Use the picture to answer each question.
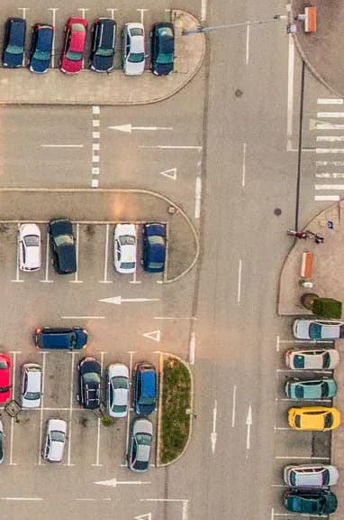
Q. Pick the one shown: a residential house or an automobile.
automobile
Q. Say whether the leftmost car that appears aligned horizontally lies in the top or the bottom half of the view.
bottom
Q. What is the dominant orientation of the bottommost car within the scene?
horizontally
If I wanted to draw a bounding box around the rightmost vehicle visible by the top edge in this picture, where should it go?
[149,23,176,75]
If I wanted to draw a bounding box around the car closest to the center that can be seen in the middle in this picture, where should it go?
[140,223,167,273]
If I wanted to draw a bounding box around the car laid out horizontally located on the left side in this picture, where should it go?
[34,325,85,351]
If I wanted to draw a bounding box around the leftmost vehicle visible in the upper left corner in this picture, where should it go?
[1,18,27,68]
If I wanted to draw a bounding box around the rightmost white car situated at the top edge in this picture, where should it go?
[120,23,148,74]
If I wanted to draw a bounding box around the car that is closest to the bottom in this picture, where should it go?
[282,488,335,516]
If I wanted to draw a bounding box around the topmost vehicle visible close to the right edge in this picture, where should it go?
[291,317,344,343]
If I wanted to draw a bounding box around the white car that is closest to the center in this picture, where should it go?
[112,224,137,273]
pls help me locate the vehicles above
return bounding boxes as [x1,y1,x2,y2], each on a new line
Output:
[75,357,102,409]
[284,347,337,372]
[90,19,116,72]
[286,405,339,432]
[42,416,68,462]
[130,362,160,414]
[149,23,176,75]
[291,317,344,343]
[0,354,13,402]
[112,224,137,273]
[59,19,87,74]
[17,223,43,272]
[282,488,335,516]
[47,218,76,274]
[0,420,6,464]
[125,418,154,471]
[282,462,337,489]
[120,23,148,74]
[1,18,27,68]
[27,24,54,73]
[18,362,44,407]
[284,374,336,401]
[34,325,85,351]
[140,223,167,273]
[105,362,131,417]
